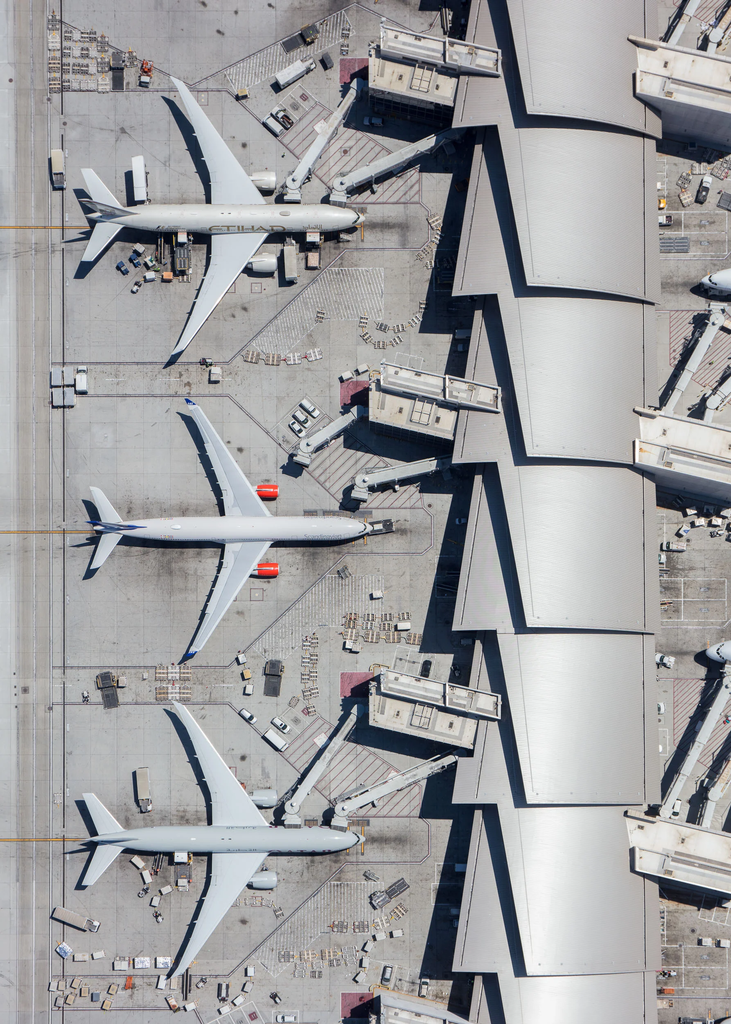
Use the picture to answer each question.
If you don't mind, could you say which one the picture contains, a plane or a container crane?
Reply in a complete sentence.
There is a plane in the scene.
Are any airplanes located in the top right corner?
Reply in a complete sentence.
Yes, there is an airplane in the top right corner.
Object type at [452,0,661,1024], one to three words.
building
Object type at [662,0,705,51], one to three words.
jet bridge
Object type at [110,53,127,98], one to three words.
work vehicle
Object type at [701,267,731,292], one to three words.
airplane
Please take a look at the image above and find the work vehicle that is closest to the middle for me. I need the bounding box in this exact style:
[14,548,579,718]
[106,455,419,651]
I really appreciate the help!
[368,518,396,536]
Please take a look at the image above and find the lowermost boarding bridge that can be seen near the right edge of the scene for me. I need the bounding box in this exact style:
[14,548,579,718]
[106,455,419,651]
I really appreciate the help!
[699,751,731,827]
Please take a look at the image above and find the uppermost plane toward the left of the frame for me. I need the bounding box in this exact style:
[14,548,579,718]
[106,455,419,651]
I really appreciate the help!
[78,75,365,353]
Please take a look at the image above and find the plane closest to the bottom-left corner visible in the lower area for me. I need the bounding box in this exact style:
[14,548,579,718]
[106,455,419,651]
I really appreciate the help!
[78,699,366,978]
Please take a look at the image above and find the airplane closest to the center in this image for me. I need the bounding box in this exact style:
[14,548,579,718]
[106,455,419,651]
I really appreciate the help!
[86,395,373,656]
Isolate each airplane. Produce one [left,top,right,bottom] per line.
[78,75,365,353]
[78,699,366,978]
[701,267,731,292]
[86,395,373,656]
[706,640,731,662]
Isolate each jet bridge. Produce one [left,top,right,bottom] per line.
[699,751,731,827]
[348,449,461,503]
[280,77,370,204]
[659,299,731,419]
[280,702,369,826]
[326,119,461,207]
[655,660,731,821]
[701,370,731,425]
[328,748,466,830]
[291,403,369,470]
[703,0,731,58]
[662,0,705,51]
